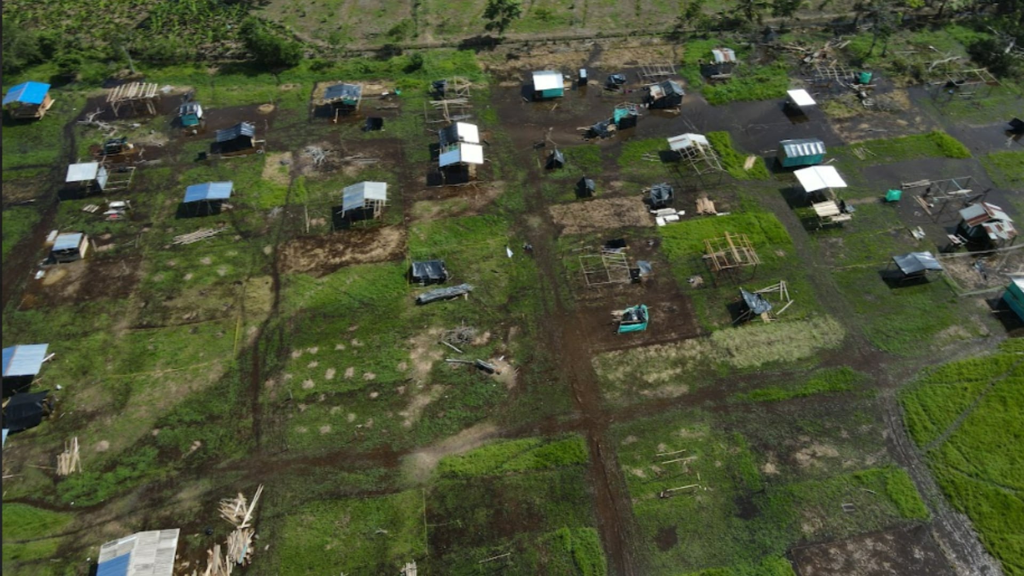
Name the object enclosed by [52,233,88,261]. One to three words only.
shed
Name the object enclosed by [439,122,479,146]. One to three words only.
house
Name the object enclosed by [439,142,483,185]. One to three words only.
house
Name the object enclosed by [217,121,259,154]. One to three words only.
shed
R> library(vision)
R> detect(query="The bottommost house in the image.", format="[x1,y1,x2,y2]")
[97,531,179,576]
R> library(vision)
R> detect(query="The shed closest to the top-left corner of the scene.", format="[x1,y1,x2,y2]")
[3,81,56,118]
